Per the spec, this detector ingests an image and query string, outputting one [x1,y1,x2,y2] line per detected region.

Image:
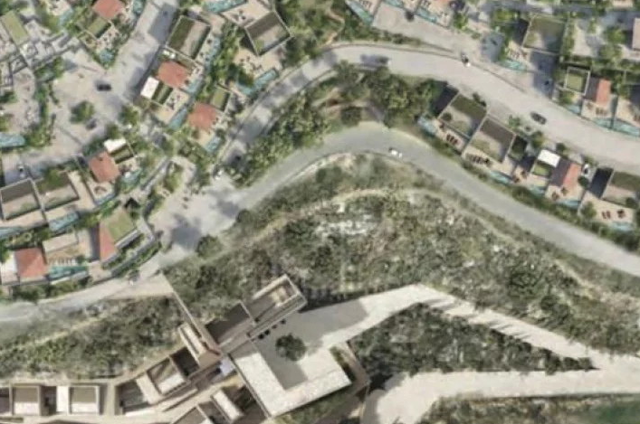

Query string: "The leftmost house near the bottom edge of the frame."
[13,385,40,414]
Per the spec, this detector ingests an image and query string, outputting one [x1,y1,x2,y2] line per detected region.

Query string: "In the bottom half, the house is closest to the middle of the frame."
[243,276,307,337]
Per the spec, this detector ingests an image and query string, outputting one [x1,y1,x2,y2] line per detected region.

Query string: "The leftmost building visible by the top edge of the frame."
[1,10,29,45]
